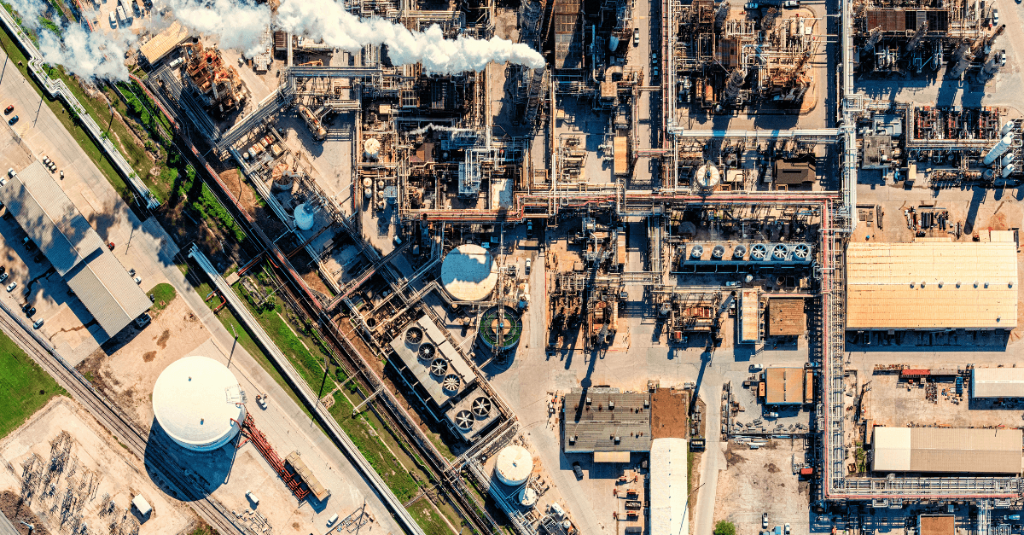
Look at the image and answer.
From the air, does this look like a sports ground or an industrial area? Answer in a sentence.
This looks like an industrial area.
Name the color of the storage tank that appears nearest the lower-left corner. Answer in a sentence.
In this view, the storage tank that appears nearest the lower-left corner is white.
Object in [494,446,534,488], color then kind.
white storage tank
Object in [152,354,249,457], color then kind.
white storage tank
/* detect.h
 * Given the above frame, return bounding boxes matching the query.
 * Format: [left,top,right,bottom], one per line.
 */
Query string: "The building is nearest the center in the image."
[492,179,512,212]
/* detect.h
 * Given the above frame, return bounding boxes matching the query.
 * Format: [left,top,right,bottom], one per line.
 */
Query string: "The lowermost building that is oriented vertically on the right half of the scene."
[648,438,687,535]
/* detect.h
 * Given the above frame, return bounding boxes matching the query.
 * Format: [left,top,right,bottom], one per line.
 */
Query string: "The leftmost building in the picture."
[0,160,104,282]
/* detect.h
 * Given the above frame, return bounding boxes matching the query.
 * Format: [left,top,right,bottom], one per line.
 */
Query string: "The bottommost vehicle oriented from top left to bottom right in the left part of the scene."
[245,490,260,505]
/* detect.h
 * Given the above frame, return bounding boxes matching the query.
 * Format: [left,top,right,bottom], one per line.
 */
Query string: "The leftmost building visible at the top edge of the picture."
[140,19,187,71]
